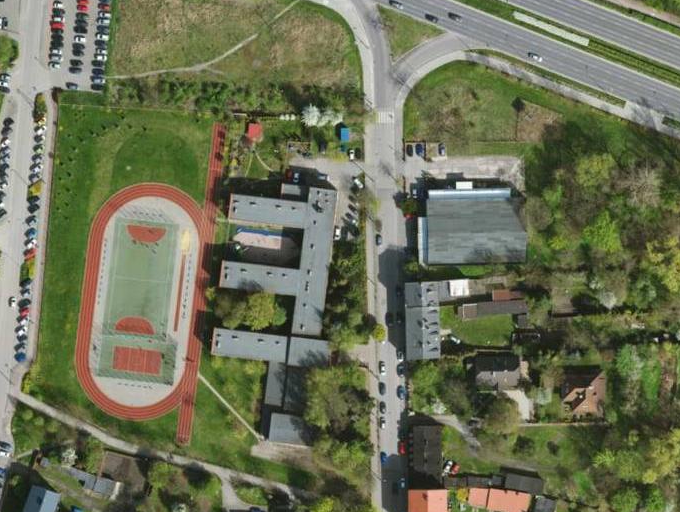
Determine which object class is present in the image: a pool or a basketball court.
basketball court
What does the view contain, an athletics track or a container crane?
athletics track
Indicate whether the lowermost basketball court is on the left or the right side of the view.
left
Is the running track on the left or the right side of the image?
left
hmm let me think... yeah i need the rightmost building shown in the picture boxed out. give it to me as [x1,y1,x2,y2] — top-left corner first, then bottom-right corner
[561,365,605,420]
